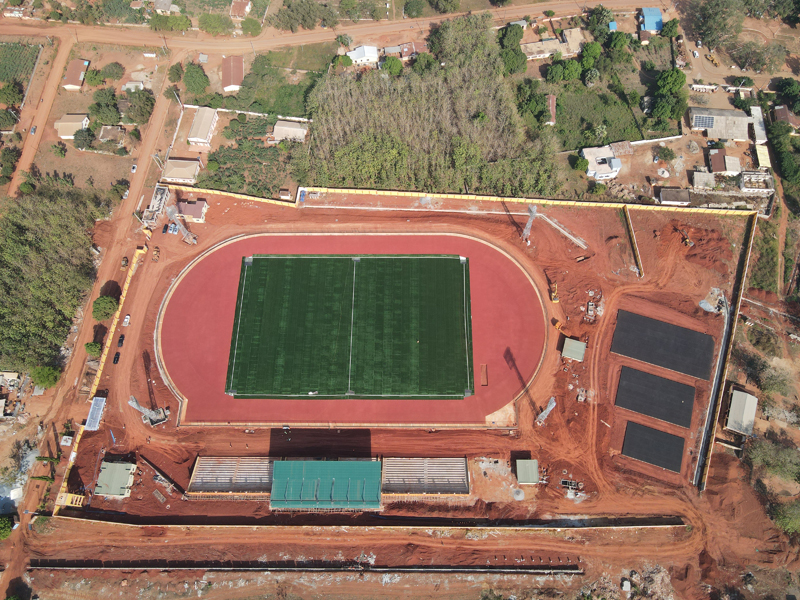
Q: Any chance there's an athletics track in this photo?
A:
Yes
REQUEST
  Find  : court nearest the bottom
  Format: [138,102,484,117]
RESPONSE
[622,420,684,474]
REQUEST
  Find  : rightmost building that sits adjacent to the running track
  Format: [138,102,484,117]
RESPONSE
[561,338,587,365]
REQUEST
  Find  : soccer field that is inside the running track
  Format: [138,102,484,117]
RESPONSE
[225,253,474,401]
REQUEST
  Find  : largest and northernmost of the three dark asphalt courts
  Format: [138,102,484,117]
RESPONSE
[610,309,714,381]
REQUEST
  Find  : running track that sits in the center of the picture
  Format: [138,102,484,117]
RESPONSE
[152,230,554,433]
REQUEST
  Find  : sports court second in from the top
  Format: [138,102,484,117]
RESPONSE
[615,366,695,429]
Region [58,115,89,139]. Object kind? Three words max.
house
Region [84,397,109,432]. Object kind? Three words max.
building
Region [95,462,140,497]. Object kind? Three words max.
building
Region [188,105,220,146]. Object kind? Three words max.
house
